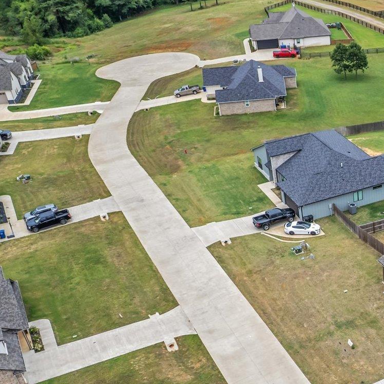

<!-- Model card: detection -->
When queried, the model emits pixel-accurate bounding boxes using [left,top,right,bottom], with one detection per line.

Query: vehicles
[269,45,301,57]
[167,81,202,98]
[249,205,300,230]
[18,197,60,220]
[0,127,15,139]
[18,206,73,232]
[281,219,323,234]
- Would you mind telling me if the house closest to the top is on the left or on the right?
right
